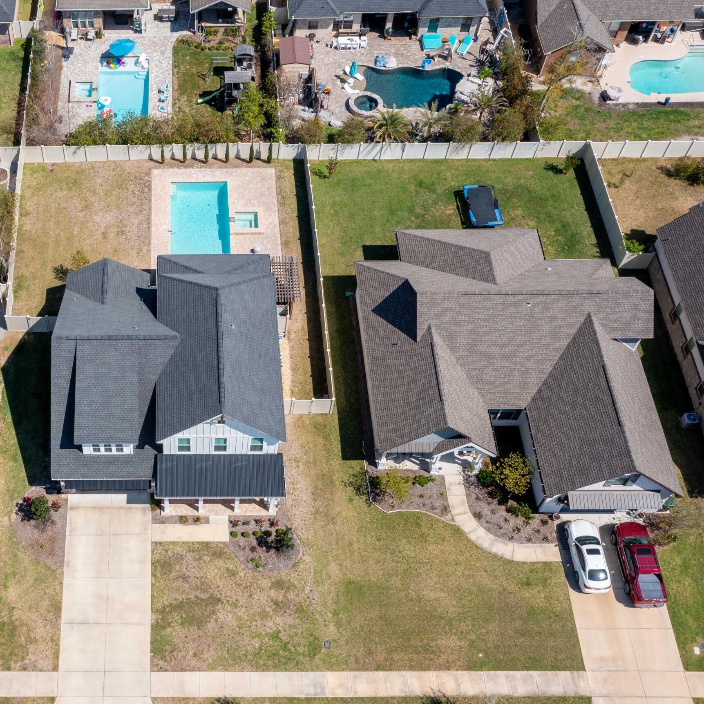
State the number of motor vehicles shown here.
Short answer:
2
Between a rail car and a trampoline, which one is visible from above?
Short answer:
trampoline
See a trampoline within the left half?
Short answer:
No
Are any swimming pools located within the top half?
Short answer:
Yes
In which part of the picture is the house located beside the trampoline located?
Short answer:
right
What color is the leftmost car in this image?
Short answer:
white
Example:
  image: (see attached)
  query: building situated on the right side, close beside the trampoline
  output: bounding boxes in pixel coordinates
[351,229,684,510]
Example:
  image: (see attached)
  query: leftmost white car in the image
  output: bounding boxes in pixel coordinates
[568,517,618,595]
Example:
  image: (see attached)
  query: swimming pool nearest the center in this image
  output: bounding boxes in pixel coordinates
[230,206,265,232]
